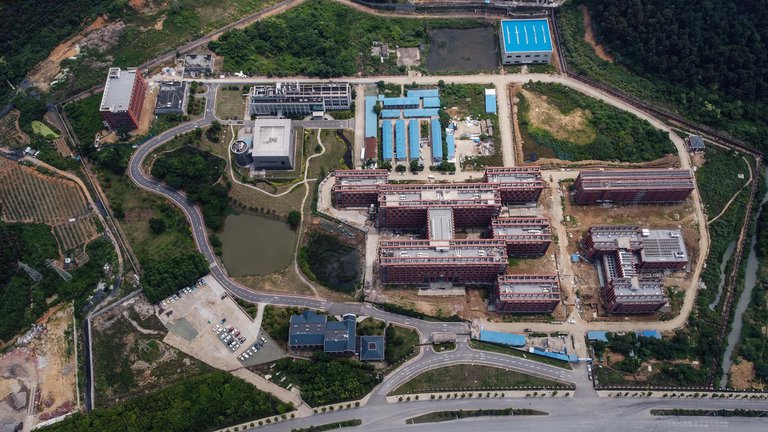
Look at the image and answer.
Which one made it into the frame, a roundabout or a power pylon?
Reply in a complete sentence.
Looking from above, you can make out a power pylon.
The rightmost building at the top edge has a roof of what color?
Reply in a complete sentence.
The color of the roof on the rightmost building at the top edge is blue.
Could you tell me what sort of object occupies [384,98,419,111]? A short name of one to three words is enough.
shed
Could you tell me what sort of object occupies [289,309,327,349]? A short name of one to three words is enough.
house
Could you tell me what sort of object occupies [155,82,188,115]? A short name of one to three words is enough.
building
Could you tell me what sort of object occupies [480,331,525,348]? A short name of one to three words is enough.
shed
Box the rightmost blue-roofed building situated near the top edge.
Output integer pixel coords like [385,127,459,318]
[499,18,554,64]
